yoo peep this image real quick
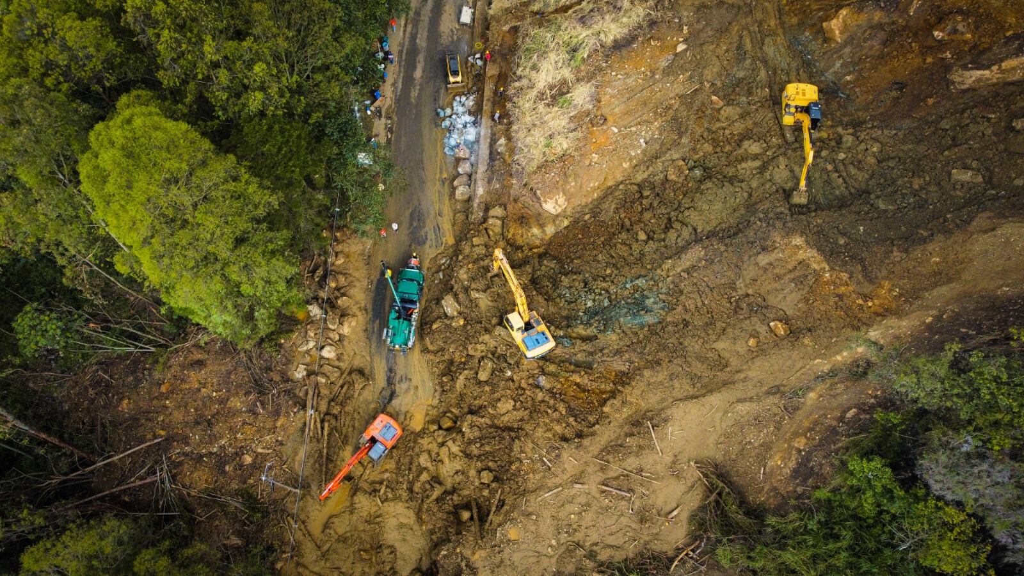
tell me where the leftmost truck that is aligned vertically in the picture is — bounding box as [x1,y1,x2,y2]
[380,254,422,351]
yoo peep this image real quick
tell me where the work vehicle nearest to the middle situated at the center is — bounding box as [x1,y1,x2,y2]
[492,252,561,371]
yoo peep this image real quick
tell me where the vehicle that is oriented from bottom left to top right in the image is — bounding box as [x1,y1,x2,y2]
[322,405,409,498]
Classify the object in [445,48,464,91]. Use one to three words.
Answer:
work vehicle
